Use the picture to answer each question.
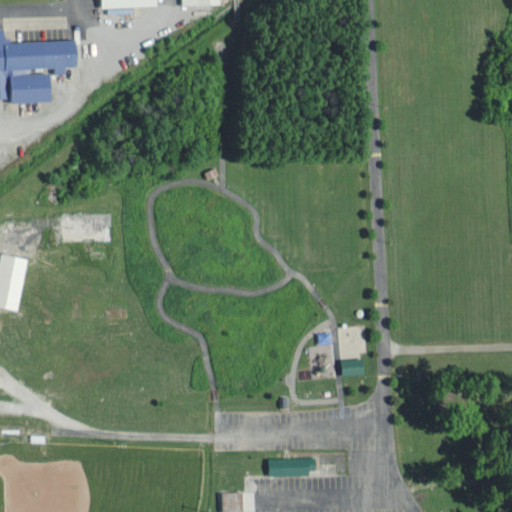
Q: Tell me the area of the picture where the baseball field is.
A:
bottom left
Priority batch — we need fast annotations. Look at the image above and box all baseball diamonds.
[0,455,90,512]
